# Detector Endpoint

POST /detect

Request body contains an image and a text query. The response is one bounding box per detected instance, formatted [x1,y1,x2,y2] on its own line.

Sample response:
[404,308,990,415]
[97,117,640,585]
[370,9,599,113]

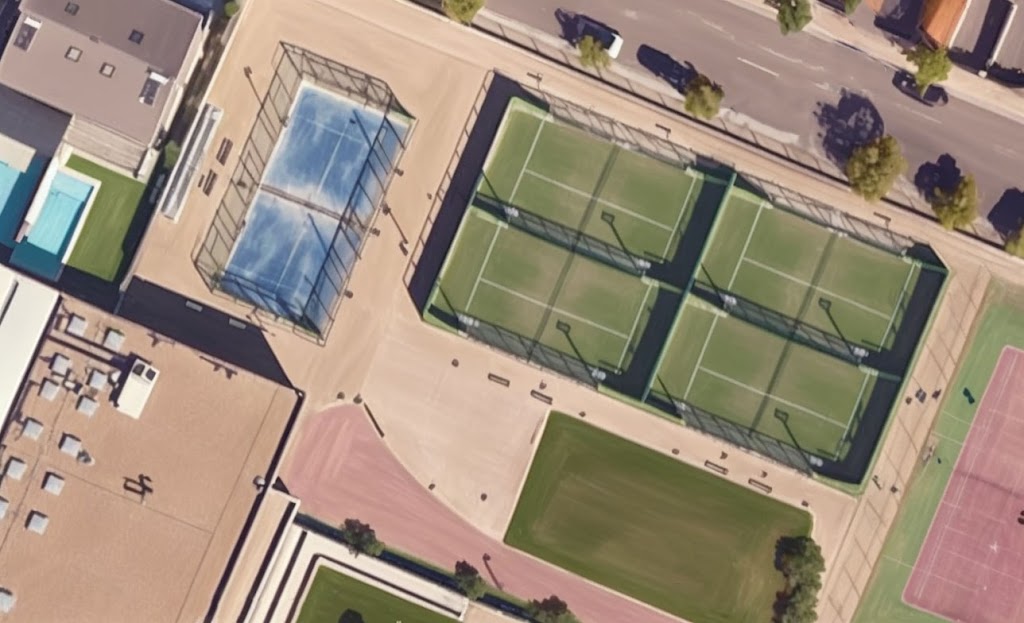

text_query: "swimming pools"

[0,154,47,249]
[6,164,103,289]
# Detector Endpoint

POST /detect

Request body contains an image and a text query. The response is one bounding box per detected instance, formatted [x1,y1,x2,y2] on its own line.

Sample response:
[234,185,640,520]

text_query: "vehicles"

[893,74,948,110]
[570,18,626,57]
[635,48,693,89]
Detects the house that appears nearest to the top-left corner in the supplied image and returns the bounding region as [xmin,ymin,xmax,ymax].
[0,0,204,155]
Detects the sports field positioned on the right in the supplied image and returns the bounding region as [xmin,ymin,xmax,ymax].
[501,408,815,623]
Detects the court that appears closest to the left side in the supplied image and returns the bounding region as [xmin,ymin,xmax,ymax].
[209,79,413,336]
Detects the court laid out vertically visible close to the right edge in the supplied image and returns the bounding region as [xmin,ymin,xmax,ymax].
[855,286,1024,623]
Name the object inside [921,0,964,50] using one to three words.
shed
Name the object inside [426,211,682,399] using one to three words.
sports court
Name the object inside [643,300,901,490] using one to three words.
sports court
